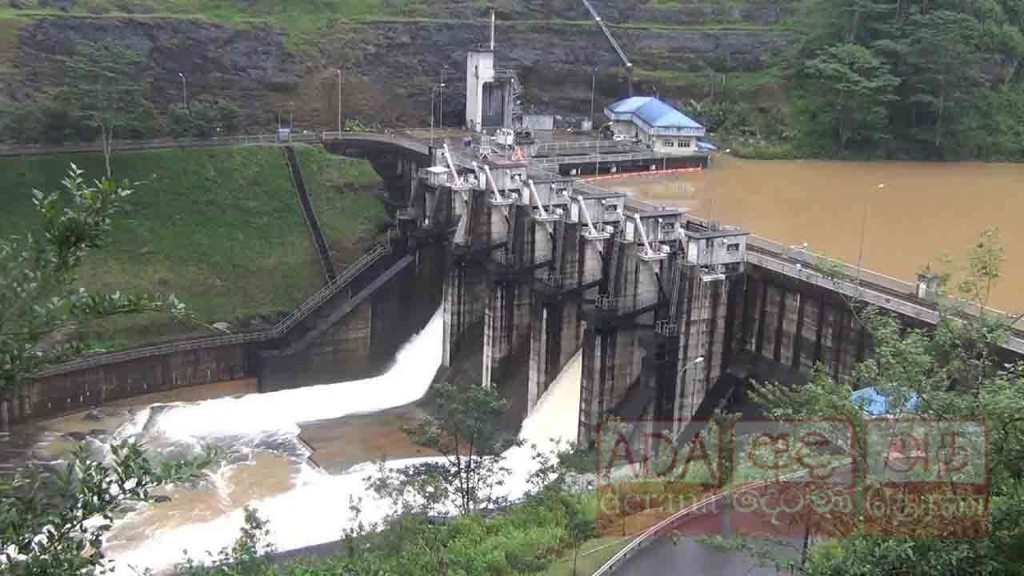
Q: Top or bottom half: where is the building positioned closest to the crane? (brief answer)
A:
top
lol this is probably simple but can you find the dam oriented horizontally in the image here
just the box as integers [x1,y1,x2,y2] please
[252,134,1024,485]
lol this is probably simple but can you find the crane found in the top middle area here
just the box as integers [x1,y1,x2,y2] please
[582,0,633,97]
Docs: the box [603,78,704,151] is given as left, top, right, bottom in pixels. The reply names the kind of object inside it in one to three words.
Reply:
building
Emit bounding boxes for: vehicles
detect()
[513,130,545,148]
[610,133,635,142]
[483,133,520,147]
